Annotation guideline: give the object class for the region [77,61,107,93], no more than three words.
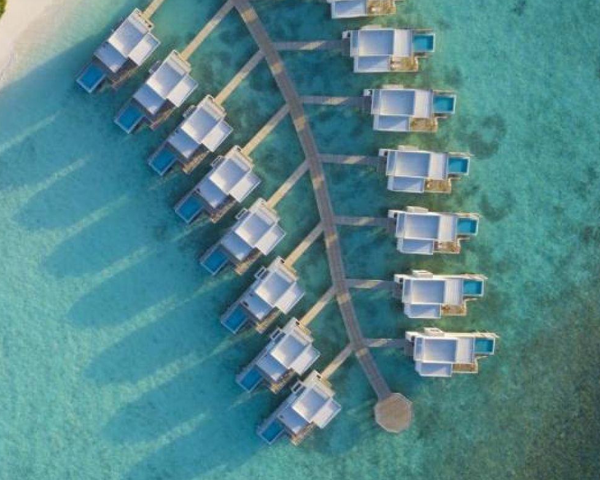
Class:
swimming pool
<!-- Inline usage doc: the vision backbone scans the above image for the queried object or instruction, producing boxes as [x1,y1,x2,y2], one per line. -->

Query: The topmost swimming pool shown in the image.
[411,32,433,52]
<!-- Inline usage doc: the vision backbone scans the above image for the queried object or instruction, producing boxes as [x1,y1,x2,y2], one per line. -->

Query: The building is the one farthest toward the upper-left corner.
[73,7,161,90]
